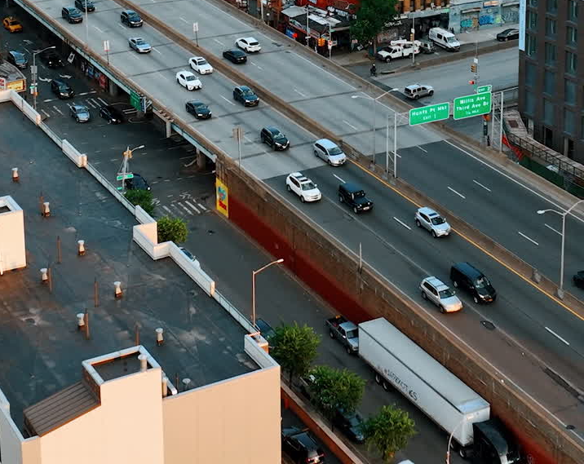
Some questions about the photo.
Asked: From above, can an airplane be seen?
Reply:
No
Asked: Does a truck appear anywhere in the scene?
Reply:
Yes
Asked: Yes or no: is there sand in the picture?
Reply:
No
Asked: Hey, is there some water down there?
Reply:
No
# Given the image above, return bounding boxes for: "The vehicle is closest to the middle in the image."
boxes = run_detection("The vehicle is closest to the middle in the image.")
[285,171,323,201]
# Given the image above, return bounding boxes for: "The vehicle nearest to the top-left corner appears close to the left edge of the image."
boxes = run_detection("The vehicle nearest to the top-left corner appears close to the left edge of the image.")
[3,17,22,32]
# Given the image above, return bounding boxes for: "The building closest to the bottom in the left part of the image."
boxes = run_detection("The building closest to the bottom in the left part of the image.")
[0,90,280,464]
